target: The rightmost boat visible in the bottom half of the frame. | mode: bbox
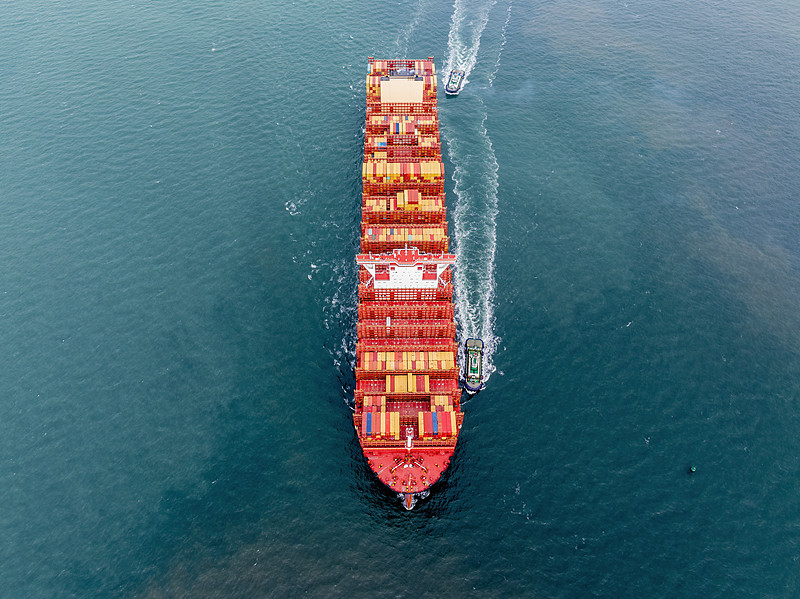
[464,339,485,390]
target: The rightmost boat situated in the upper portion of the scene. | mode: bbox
[448,70,464,94]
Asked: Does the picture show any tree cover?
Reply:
No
